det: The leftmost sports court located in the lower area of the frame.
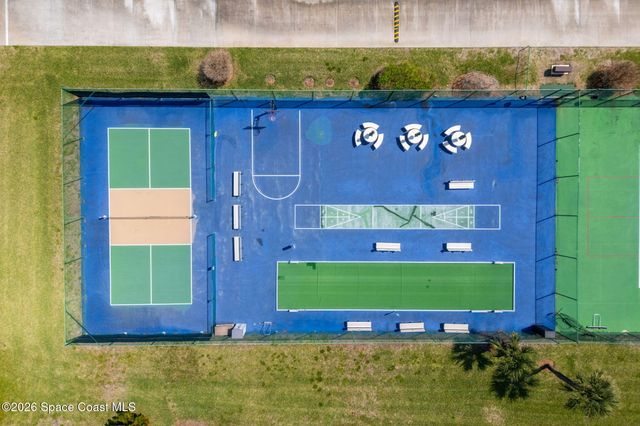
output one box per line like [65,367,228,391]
[110,245,150,304]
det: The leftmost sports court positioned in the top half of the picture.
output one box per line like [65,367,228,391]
[109,129,149,188]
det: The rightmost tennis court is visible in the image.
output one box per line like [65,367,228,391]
[555,97,640,332]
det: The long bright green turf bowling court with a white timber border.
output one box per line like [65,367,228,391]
[276,261,516,313]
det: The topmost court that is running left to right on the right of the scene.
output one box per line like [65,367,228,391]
[294,204,502,230]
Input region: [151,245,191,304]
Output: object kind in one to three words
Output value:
sports court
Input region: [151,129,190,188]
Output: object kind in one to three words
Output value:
sports court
